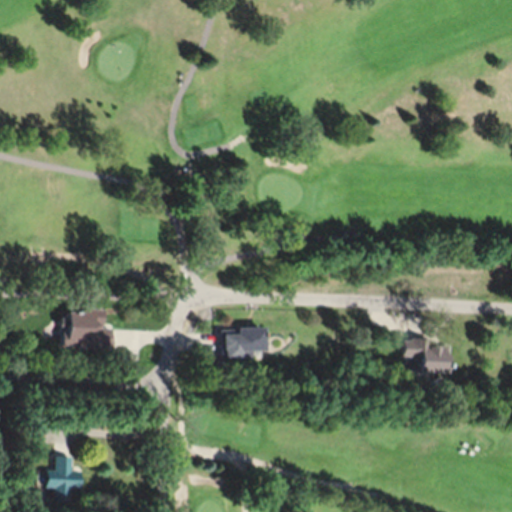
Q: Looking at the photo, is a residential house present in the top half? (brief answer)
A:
No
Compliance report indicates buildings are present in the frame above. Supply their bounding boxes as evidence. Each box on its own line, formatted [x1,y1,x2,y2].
[219,326,268,358]
[403,337,455,374]
[64,309,115,348]
[38,454,85,497]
